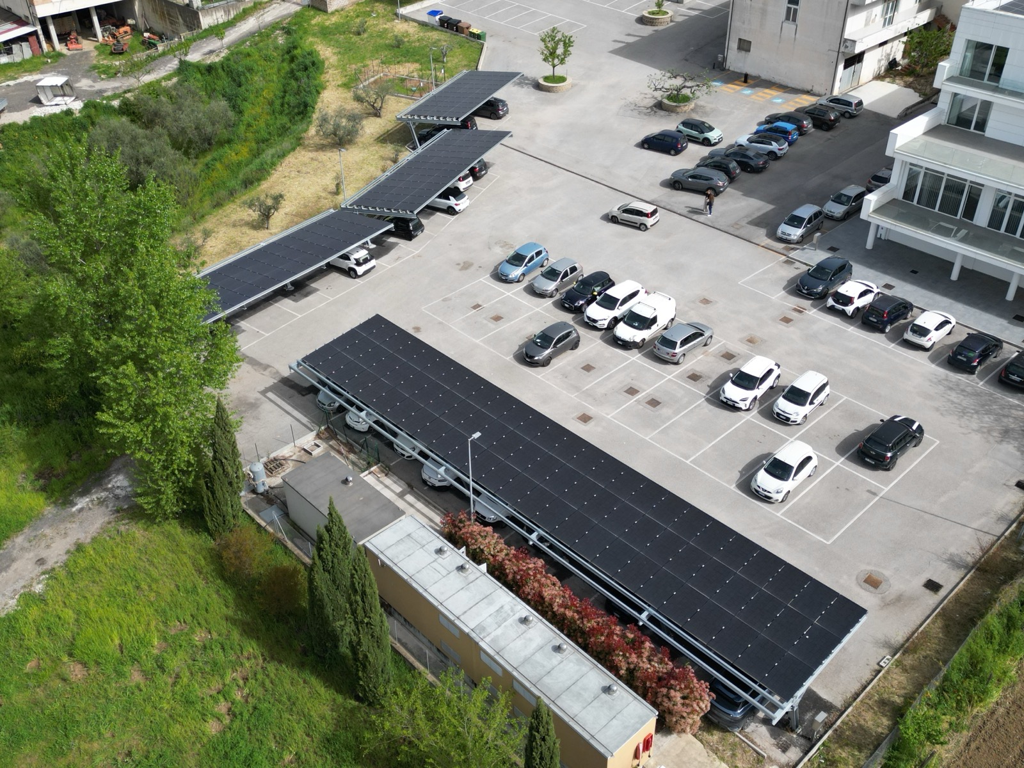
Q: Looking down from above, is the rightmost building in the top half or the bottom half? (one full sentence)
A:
It is in the top half that the rightmost building appears.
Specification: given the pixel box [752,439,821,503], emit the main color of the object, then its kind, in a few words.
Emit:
white car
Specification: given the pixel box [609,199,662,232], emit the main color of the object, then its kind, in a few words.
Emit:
white car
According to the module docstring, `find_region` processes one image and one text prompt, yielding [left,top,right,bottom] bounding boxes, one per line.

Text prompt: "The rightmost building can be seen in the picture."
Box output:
[863,0,1024,300]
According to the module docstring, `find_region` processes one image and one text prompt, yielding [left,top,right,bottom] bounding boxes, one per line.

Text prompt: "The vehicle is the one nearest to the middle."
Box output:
[520,318,582,367]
